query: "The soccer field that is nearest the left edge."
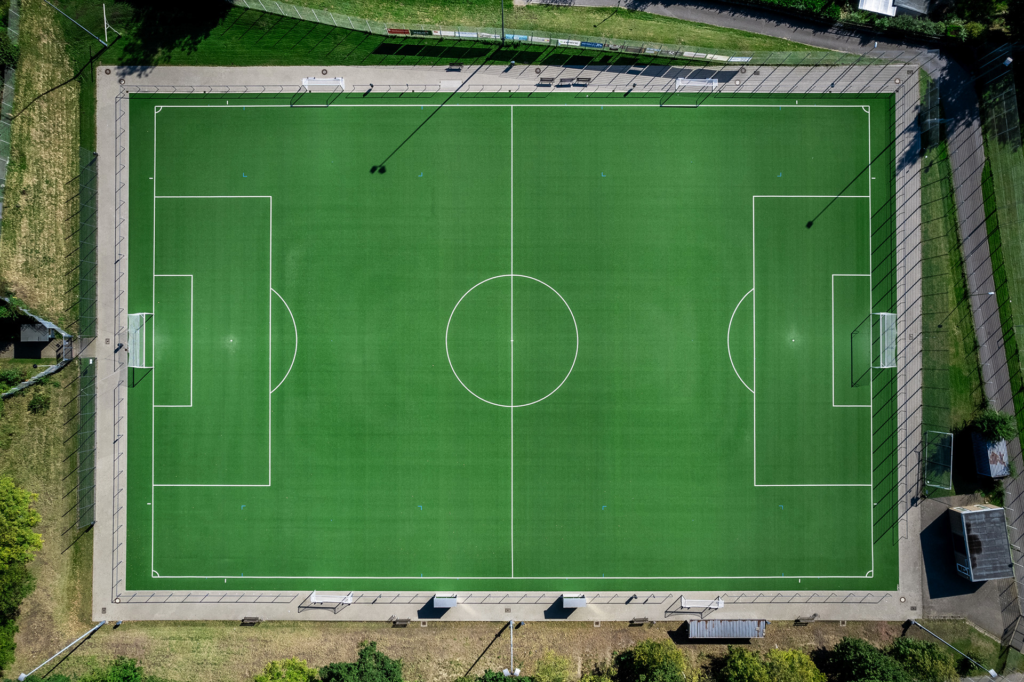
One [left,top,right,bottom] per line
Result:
[126,92,899,591]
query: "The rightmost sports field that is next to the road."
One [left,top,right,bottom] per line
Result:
[980,50,1024,378]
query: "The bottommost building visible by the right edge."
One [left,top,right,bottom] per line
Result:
[948,505,1014,582]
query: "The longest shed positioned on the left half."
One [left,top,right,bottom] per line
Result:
[21,324,59,342]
